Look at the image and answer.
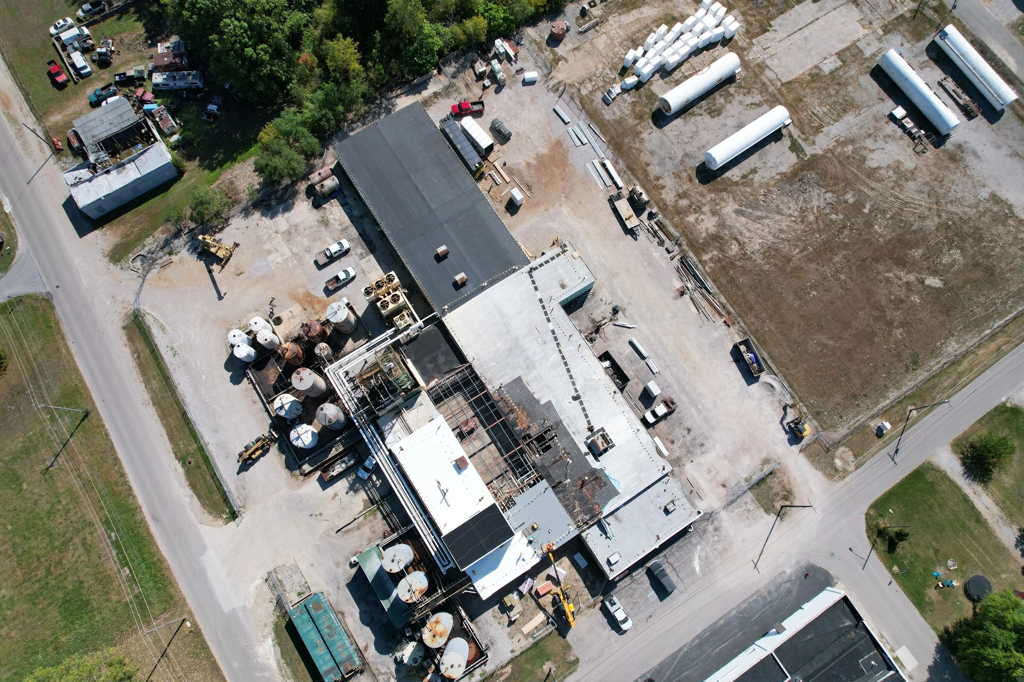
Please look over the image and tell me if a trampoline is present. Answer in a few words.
Yes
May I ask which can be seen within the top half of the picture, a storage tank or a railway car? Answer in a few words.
storage tank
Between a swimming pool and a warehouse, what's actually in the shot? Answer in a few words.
warehouse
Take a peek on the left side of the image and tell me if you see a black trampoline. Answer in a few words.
No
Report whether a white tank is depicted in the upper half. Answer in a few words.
Yes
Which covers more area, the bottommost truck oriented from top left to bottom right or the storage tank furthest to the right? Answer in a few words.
the storage tank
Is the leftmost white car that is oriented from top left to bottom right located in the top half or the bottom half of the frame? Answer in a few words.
top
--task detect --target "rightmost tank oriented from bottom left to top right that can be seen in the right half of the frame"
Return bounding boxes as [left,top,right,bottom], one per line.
[704,102,794,170]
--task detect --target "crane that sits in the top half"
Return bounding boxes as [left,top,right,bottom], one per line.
[202,228,249,267]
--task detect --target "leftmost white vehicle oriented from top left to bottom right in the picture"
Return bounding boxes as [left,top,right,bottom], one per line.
[69,51,95,79]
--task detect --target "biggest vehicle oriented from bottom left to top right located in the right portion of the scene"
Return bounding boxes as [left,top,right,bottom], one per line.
[645,394,682,425]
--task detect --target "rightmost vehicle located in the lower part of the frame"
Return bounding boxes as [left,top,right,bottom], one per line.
[779,407,815,444]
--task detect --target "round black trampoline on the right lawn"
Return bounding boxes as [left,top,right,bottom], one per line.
[963,574,992,601]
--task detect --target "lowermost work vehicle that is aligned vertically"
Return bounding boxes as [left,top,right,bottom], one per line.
[550,546,580,626]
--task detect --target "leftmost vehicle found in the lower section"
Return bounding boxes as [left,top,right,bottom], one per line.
[241,424,287,463]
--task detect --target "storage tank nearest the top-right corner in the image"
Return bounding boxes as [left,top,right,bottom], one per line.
[933,23,1020,112]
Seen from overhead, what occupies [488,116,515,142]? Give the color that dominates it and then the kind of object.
gray car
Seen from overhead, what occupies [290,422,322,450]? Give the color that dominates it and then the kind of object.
white storage tank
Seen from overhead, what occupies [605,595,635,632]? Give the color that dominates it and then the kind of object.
white truck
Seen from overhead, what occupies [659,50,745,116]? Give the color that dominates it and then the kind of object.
white storage tank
